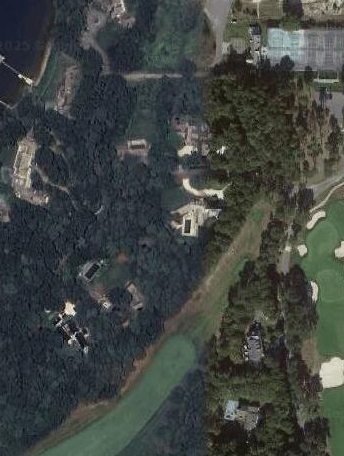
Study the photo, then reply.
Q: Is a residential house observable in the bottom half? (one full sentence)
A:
Yes, there is a residential house in the bottom half.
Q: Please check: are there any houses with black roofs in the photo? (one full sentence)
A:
Yes, there's a house with a black roof down there.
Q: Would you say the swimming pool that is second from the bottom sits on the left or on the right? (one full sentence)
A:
You can find the swimming pool that is second from the bottom on the left side of the picture.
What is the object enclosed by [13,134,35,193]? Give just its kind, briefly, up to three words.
house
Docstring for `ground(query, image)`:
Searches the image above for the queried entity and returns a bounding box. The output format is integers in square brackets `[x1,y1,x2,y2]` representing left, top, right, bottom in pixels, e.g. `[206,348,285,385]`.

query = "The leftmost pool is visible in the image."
[81,260,104,283]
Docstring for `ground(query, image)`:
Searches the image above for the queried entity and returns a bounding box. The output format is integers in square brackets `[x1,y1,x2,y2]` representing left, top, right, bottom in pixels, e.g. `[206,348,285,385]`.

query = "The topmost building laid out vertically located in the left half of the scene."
[57,66,77,111]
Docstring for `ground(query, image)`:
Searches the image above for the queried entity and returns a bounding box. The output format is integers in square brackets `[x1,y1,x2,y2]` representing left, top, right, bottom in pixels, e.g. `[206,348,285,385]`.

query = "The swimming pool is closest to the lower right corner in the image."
[224,401,237,420]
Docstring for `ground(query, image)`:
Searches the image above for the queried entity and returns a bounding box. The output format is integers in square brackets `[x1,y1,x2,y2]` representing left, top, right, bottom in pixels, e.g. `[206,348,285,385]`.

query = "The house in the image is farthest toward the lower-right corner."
[235,405,258,428]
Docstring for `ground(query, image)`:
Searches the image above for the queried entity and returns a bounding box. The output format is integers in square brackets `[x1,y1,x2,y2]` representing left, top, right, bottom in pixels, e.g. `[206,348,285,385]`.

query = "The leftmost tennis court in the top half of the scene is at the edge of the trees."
[267,28,285,70]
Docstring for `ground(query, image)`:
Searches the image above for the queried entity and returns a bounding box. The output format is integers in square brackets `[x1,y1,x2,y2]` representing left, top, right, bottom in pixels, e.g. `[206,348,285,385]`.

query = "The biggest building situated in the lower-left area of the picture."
[50,312,92,353]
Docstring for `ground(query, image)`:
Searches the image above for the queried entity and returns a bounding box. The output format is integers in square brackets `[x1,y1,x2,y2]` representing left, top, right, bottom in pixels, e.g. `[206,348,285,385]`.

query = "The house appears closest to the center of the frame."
[193,199,221,217]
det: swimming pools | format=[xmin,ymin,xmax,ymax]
[182,210,197,236]
[81,260,104,283]
[224,401,237,420]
